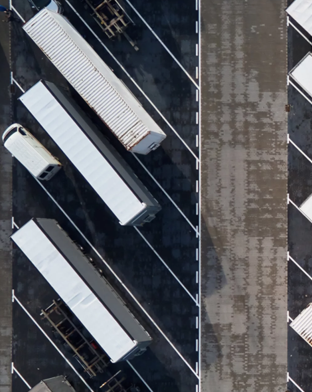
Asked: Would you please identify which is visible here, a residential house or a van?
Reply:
van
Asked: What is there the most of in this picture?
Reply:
paved ground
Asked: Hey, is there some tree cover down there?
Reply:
No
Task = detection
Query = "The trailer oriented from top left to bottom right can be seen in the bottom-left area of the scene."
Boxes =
[10,218,154,362]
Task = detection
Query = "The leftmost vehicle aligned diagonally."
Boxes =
[7,125,63,177]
